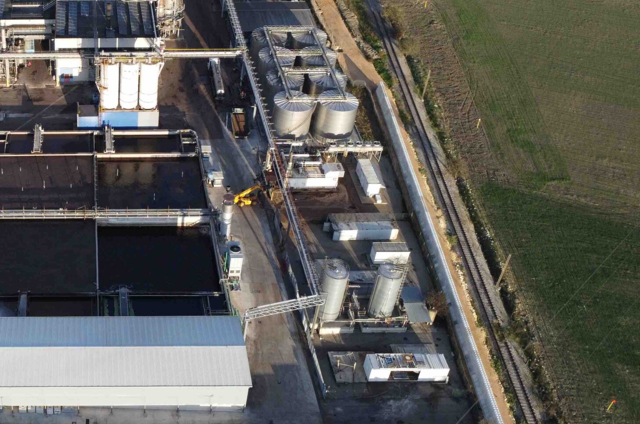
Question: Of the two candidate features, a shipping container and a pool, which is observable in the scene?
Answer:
shipping container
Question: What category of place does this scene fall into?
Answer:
industrial area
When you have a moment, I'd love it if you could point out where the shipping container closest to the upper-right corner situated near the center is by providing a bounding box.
[355,157,386,197]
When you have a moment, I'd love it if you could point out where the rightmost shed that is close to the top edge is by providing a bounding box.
[232,1,319,46]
